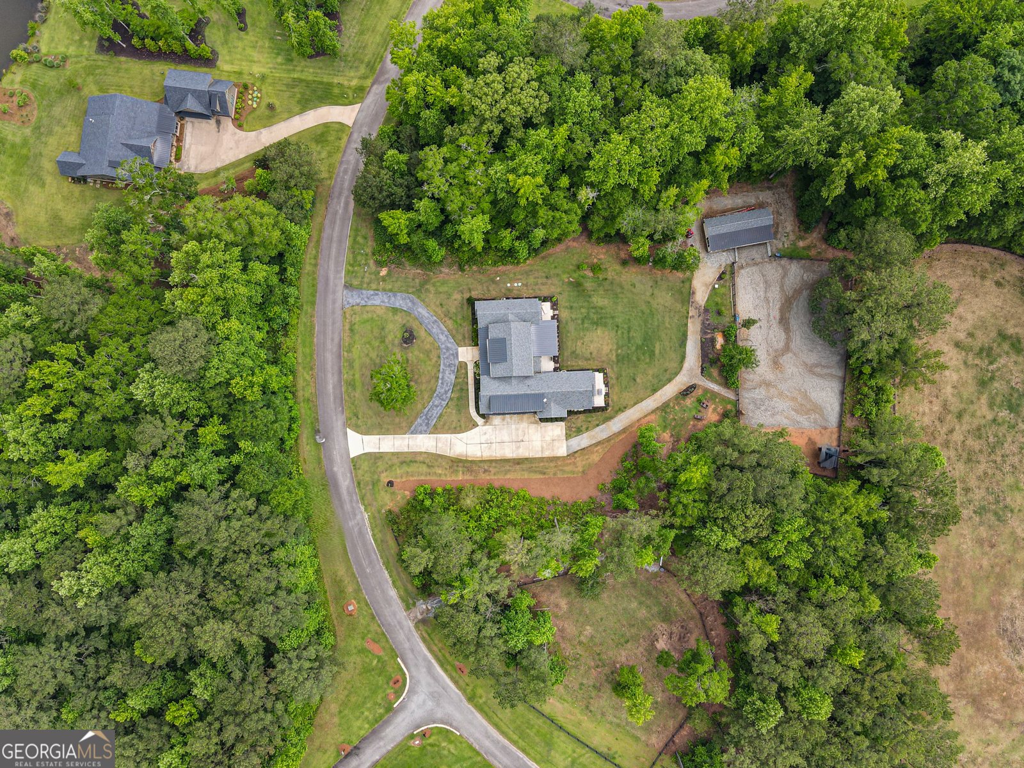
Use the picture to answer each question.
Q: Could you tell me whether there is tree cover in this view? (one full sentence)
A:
Yes, there's tree cover in this view.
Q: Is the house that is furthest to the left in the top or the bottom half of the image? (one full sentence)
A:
You can find the house that is furthest to the left in the top half.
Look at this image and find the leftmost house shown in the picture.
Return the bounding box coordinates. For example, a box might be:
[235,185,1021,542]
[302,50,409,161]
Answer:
[56,93,182,181]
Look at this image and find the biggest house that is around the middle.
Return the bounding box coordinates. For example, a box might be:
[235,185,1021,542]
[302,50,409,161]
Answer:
[475,297,596,418]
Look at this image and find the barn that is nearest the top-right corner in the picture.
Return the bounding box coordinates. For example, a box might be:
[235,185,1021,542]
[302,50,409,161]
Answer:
[701,208,777,254]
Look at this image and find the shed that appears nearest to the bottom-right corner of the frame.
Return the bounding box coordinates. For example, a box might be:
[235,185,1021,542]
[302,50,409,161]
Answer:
[820,446,845,469]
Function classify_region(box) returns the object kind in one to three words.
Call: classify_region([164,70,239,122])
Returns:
building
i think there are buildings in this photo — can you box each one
[820,446,845,469]
[475,297,596,418]
[701,208,777,254]
[164,70,239,122]
[56,93,182,181]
